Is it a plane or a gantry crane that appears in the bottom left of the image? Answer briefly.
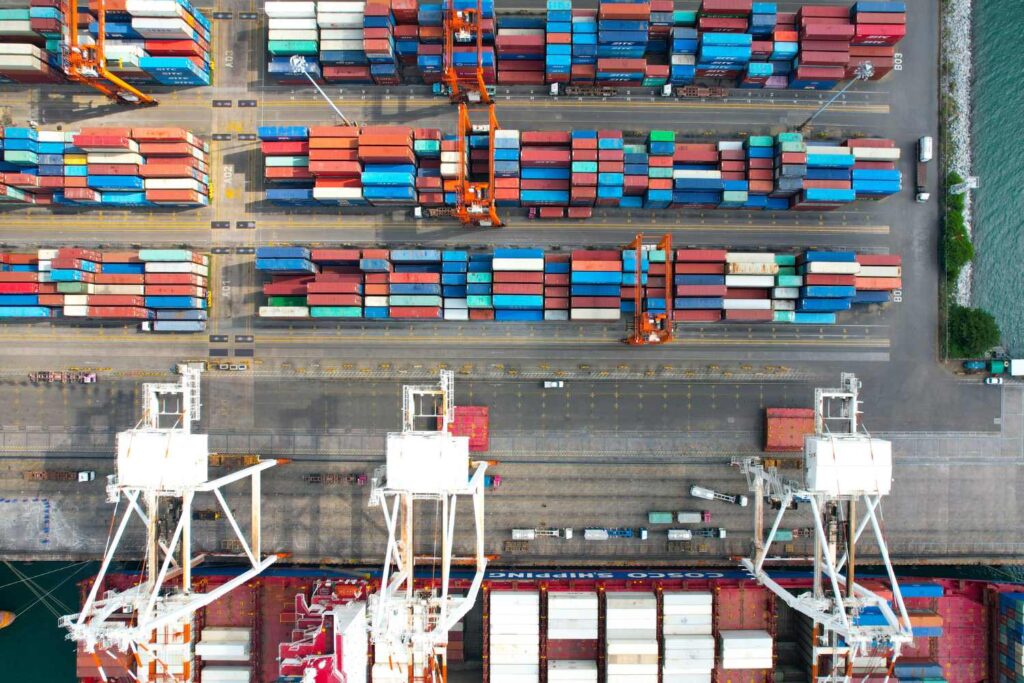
gantry crane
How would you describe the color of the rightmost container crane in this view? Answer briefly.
white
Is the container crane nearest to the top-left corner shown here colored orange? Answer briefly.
Yes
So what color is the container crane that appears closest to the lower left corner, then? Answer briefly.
white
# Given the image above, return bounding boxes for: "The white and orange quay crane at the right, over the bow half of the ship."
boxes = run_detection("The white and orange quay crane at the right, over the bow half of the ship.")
[728,371,923,683]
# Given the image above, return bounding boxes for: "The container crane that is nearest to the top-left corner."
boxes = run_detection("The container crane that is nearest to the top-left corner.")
[65,0,163,104]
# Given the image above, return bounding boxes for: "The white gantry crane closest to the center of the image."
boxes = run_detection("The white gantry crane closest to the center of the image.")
[365,367,503,683]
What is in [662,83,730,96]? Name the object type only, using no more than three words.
vehicle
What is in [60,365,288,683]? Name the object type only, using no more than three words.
container crane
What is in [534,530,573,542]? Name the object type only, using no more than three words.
vehicle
